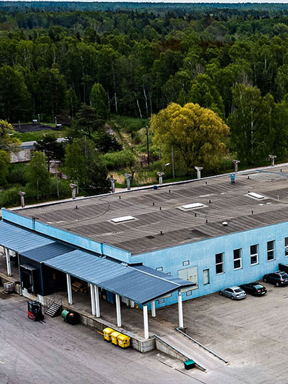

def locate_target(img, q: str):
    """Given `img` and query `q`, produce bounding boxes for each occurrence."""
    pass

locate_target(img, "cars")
[219,287,247,301]
[263,271,288,287]
[241,282,266,296]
